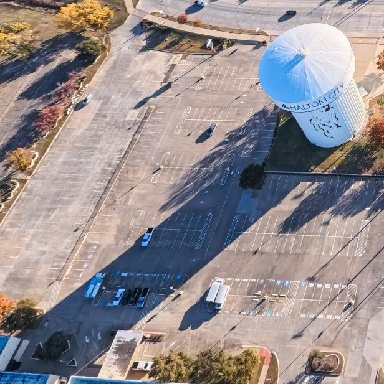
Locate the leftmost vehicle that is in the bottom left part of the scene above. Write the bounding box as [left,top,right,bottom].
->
[77,271,106,300]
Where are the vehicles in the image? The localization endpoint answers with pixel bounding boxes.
[121,289,132,307]
[112,288,125,307]
[212,279,231,310]
[137,286,151,308]
[130,361,153,370]
[84,93,95,105]
[193,0,208,8]
[140,228,153,247]
[200,277,223,306]
[128,288,140,307]
[207,123,216,135]
[77,271,106,300]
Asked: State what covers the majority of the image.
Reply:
paved ground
